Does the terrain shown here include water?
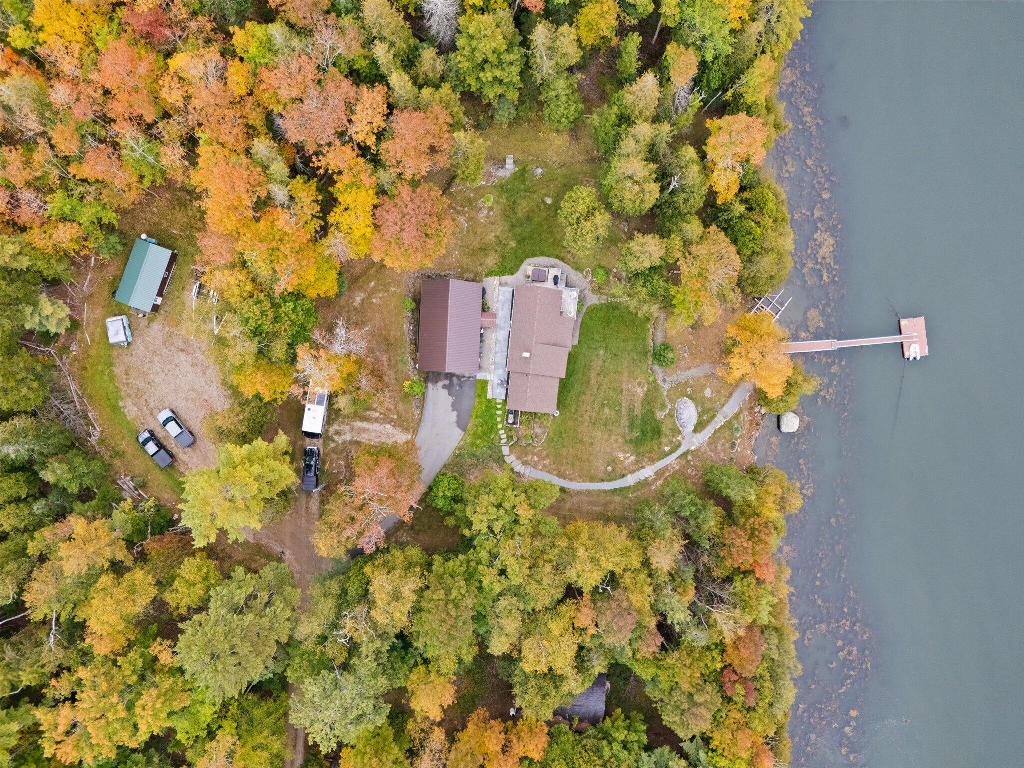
Yes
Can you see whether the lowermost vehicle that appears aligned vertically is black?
Yes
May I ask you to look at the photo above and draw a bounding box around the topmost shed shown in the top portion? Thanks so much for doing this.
[115,239,179,313]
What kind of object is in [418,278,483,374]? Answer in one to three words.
building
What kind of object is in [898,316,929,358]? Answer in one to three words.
pier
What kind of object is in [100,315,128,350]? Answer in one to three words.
camper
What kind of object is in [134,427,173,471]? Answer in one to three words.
truck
